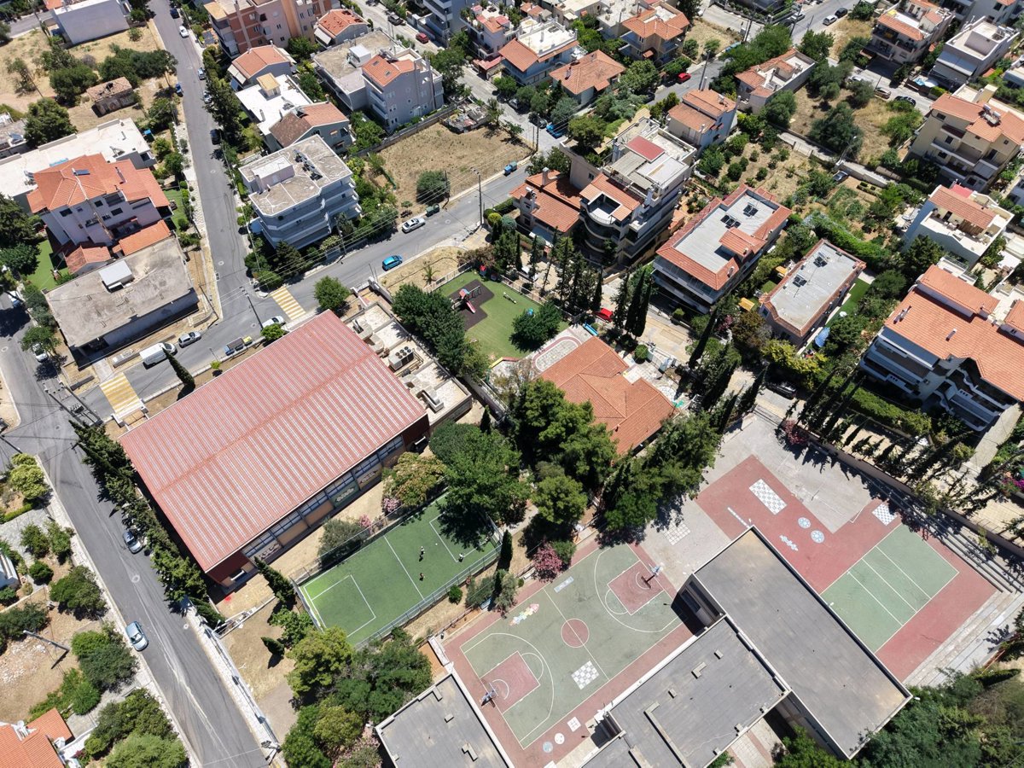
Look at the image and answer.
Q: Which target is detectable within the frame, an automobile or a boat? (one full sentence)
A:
Looking from above, you can make out an automobile.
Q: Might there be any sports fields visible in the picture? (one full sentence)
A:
Yes, this view includes a sports field.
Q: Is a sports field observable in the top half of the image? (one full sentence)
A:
No, there's no sports field to be seen in the top half of the image.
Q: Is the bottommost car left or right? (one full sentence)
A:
It is on the left.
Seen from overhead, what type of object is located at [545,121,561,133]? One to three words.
vehicle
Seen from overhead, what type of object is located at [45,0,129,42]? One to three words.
building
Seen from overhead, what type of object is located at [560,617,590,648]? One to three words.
sports court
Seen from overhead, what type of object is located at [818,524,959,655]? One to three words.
sports court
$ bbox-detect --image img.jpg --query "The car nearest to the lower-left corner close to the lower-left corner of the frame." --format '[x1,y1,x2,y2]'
[122,620,145,648]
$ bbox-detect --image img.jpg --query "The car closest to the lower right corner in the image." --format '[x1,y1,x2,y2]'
[765,378,793,396]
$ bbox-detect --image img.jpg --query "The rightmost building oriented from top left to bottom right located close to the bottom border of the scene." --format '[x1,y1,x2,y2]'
[681,519,920,767]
